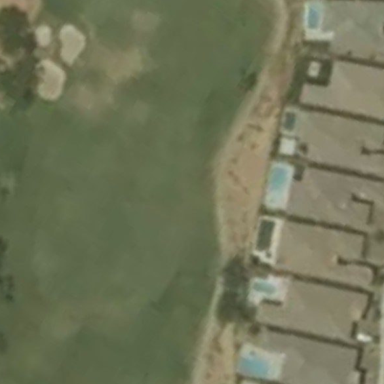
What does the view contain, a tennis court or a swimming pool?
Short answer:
swimming pool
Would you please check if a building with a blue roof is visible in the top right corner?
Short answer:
No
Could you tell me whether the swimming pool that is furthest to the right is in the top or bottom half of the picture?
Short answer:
top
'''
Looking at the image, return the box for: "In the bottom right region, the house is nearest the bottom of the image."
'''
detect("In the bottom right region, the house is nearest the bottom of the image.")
[261,331,364,384]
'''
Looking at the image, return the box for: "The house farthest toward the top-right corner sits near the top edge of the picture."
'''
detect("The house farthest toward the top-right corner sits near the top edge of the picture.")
[325,2,384,57]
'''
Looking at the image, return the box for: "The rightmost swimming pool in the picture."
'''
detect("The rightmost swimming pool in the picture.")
[306,1,327,39]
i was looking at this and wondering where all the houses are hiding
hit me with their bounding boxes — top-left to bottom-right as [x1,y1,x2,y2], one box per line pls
[301,59,384,117]
[294,111,384,175]
[261,331,364,384]
[325,2,384,57]
[257,278,371,343]
[288,167,384,227]
[274,219,371,286]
